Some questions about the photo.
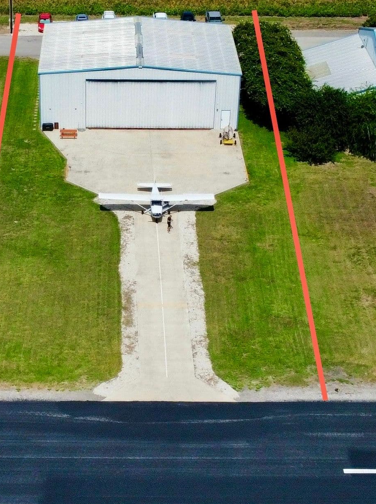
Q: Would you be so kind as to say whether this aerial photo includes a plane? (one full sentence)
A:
Yes, you can see a plane in this photo.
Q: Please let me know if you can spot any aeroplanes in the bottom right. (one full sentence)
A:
No, there's no aeroplane to be seen in the bottom right.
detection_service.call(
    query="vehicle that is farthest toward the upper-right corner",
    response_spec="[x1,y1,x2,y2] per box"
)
[205,10,224,23]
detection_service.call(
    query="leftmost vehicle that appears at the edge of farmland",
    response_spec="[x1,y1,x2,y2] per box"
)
[36,14,52,34]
